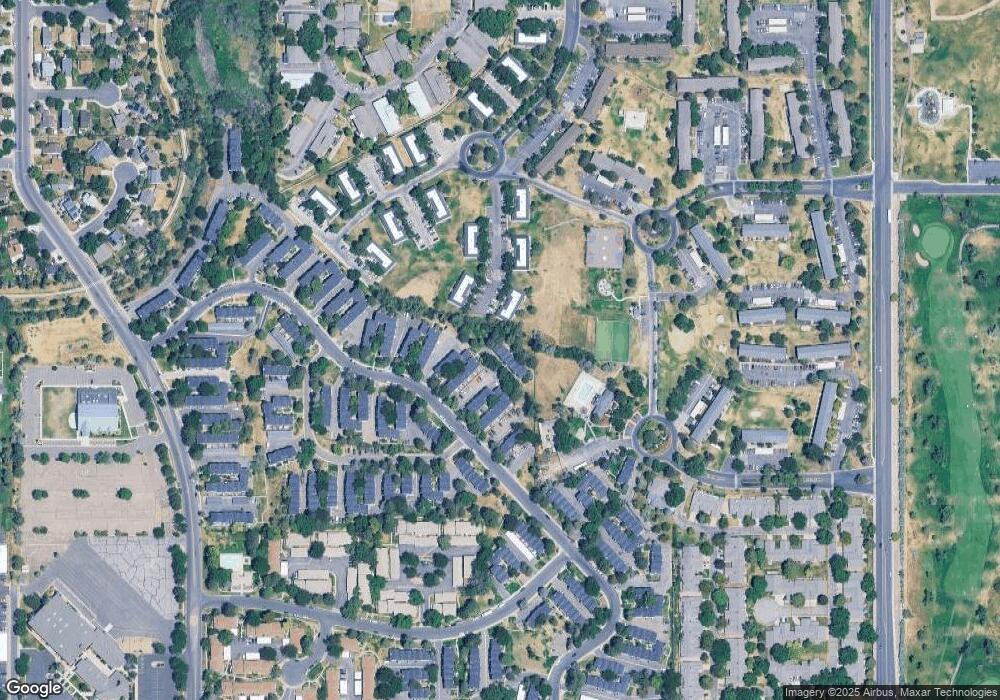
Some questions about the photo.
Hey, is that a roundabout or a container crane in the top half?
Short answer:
roundabout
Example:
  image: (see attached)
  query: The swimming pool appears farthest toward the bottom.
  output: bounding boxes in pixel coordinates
[219,552,251,569]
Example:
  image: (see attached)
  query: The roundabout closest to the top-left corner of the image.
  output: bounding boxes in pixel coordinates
[460,133,506,180]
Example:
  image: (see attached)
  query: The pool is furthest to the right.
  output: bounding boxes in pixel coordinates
[564,372,605,416]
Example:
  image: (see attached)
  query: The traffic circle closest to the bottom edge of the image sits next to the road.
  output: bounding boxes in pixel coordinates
[630,413,679,461]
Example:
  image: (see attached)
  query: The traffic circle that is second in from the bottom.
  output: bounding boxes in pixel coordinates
[631,207,679,255]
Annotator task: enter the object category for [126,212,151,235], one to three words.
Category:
house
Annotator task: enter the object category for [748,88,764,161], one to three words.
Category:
building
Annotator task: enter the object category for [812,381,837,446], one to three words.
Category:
building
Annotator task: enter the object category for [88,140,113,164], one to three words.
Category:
house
